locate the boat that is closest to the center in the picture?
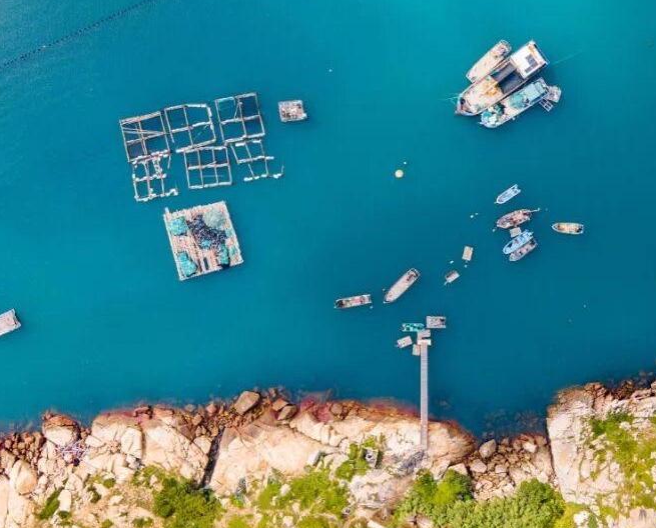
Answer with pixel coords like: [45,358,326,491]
[335,294,371,307]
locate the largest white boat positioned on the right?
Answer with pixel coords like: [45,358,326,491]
[455,38,551,115]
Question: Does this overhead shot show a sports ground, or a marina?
marina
